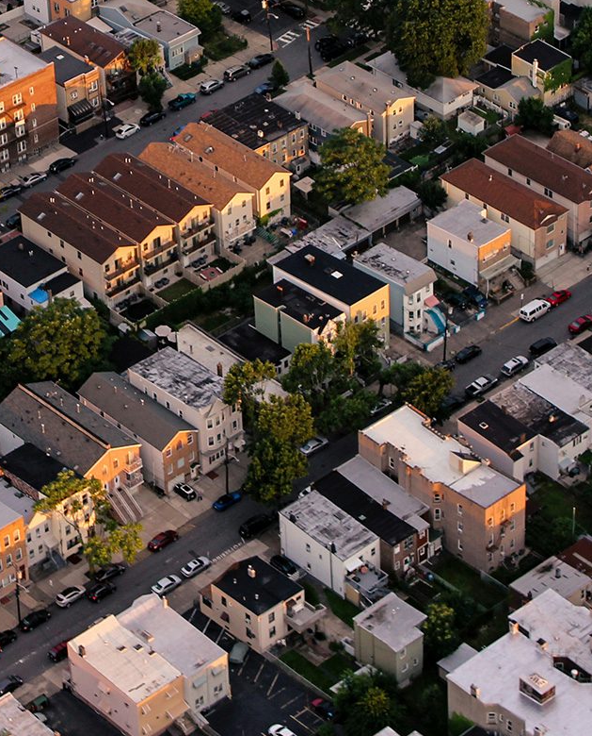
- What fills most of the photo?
buildings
